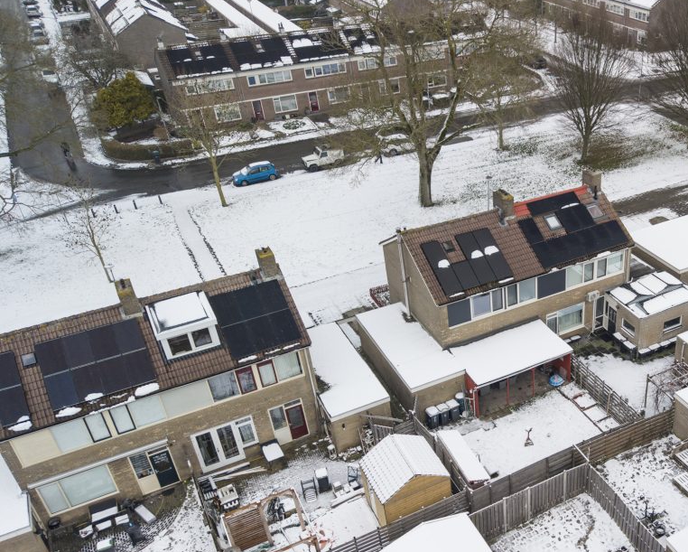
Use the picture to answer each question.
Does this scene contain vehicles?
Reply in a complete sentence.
Yes, a vehicle is visible in the scene.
